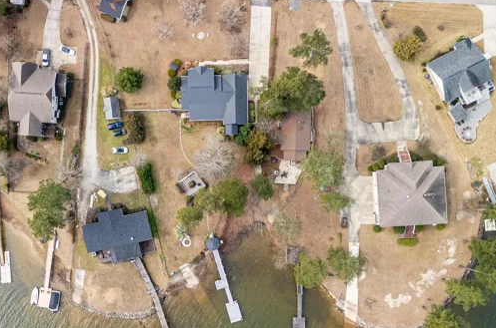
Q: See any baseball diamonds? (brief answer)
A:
No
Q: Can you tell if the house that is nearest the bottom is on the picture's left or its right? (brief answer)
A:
left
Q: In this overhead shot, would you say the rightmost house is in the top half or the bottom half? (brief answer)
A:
top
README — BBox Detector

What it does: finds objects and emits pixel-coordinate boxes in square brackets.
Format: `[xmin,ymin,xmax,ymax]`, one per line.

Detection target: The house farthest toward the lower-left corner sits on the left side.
[82,208,156,263]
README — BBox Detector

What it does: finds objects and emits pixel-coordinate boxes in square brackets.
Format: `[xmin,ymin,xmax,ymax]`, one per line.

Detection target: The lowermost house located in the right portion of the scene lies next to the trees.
[373,150,448,239]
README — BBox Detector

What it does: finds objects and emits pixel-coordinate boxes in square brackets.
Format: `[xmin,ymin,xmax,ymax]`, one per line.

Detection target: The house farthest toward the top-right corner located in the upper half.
[424,38,496,122]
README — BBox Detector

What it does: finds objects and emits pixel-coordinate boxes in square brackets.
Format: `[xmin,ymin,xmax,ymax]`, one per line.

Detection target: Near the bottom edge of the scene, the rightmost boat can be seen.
[48,291,61,312]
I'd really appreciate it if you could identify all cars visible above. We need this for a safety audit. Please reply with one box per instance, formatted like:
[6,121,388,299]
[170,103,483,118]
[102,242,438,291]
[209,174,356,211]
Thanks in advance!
[41,48,48,65]
[112,129,126,137]
[111,147,128,153]
[58,45,75,54]
[106,122,123,130]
